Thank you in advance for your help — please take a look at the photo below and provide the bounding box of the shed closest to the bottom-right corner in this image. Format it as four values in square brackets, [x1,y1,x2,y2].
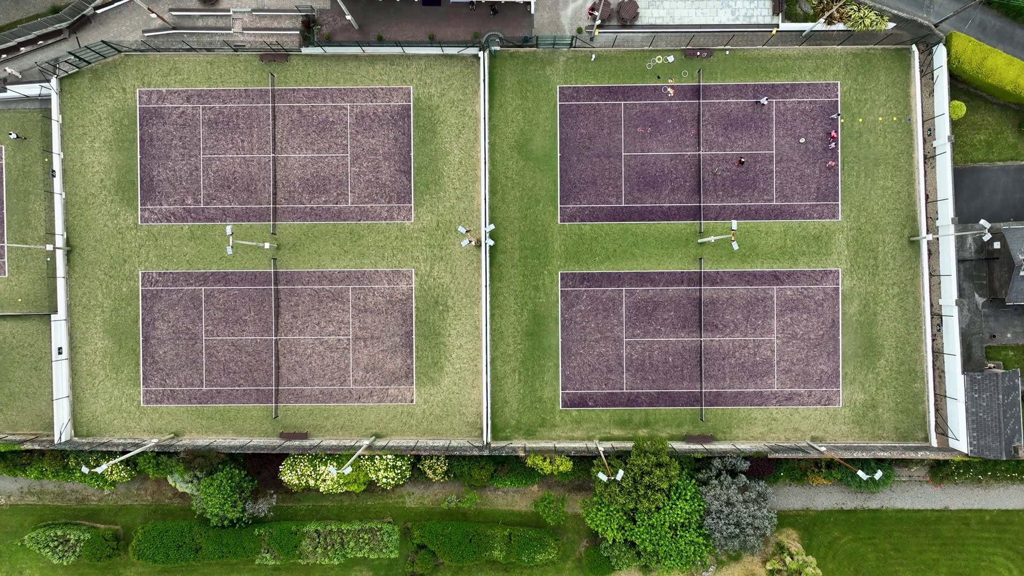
[955,367,1024,461]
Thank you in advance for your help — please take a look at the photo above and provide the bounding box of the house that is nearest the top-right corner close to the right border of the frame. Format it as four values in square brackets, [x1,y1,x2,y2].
[980,225,1024,305]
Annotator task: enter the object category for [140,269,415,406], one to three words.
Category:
tennis court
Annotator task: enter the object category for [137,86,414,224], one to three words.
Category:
tennis court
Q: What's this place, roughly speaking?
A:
sports ground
